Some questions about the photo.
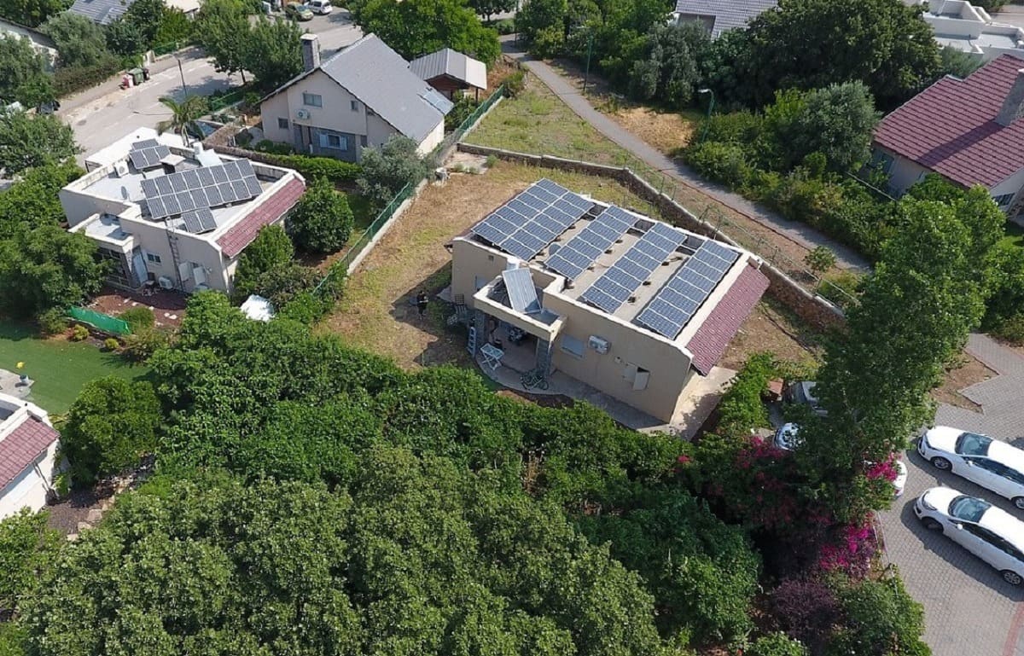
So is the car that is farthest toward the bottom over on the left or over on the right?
right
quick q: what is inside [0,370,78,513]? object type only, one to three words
house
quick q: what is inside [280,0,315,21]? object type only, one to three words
car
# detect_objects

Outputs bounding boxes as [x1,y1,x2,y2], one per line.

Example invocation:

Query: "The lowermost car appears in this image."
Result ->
[911,485,1024,588]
